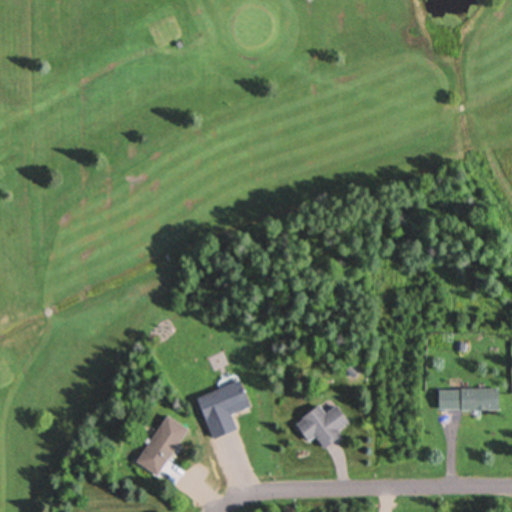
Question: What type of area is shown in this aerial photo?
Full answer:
This image shows a golf course.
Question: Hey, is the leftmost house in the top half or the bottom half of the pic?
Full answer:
The leftmost house sits in the bottom half of the picture.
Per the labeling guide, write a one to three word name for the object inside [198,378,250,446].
house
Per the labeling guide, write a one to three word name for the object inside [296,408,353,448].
house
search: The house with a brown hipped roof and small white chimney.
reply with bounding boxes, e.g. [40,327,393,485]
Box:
[136,416,188,476]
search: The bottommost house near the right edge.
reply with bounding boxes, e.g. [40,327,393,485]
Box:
[439,378,501,412]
